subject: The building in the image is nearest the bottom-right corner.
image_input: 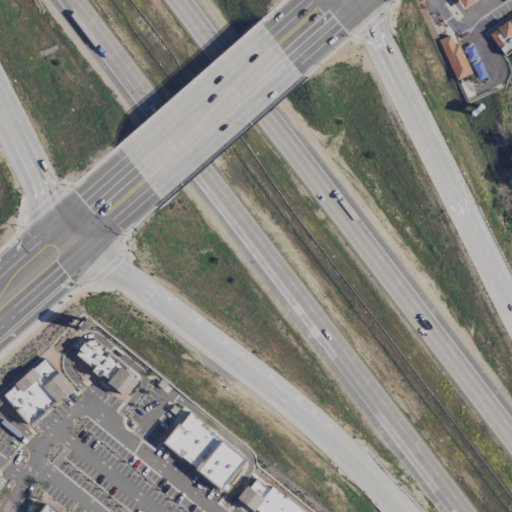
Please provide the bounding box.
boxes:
[240,480,305,512]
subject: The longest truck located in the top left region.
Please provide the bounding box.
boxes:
[77,22,106,58]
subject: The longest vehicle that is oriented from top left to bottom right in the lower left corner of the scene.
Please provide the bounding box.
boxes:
[1,420,28,442]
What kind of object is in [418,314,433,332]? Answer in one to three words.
vehicle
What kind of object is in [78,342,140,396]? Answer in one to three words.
building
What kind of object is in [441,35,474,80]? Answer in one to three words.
building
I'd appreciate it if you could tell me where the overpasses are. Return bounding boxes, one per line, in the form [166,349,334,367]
[117,19,308,212]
